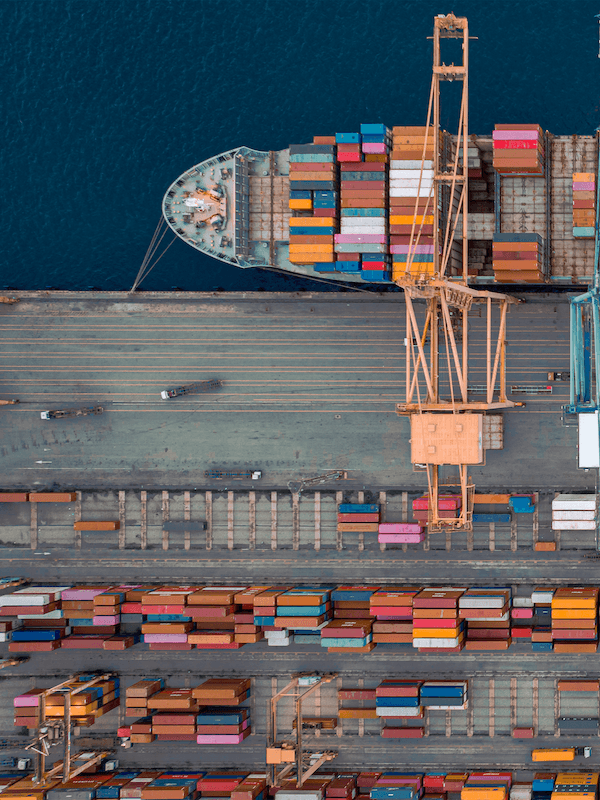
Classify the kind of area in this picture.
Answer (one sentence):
This image shows a port.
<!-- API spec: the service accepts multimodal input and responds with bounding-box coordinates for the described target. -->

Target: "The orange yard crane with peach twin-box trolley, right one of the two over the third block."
[265,677,332,792]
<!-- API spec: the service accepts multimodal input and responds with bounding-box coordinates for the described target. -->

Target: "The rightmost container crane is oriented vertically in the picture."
[560,30,600,532]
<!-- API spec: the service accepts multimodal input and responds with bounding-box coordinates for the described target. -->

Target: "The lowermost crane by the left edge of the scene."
[26,676,116,790]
